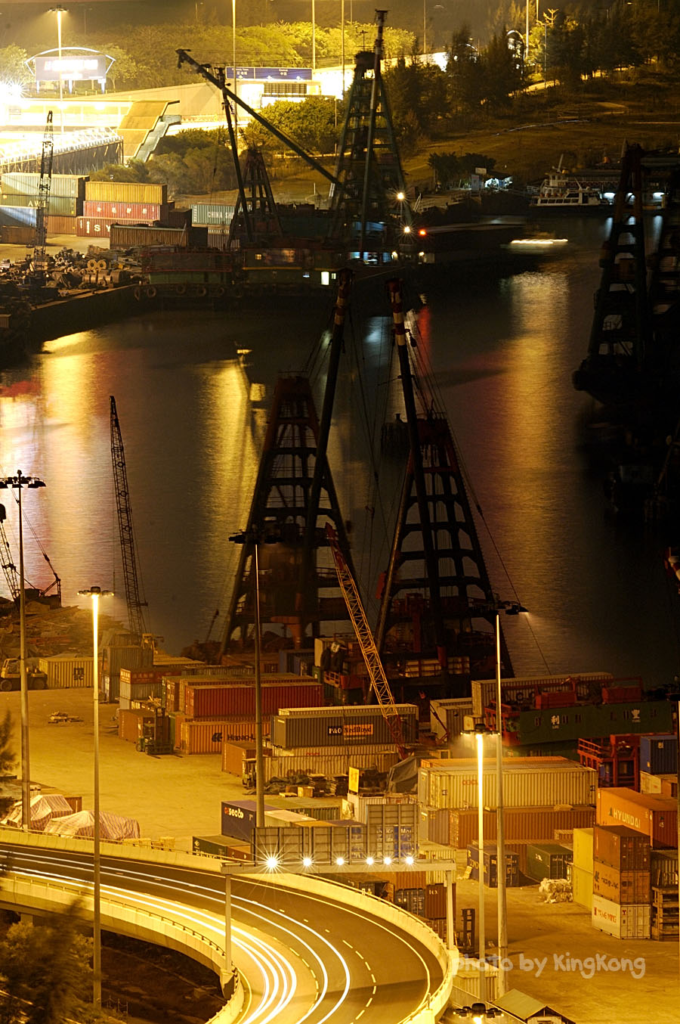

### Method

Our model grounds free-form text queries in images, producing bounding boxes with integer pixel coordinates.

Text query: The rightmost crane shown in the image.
[322,519,446,747]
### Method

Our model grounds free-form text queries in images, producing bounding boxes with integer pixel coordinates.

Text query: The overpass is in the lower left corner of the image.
[0,900,234,1005]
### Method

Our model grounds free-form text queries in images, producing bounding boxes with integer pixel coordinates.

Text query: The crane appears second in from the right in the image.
[107,391,166,621]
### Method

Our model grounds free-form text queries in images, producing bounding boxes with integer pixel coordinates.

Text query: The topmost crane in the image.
[19,110,56,266]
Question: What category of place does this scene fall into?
port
